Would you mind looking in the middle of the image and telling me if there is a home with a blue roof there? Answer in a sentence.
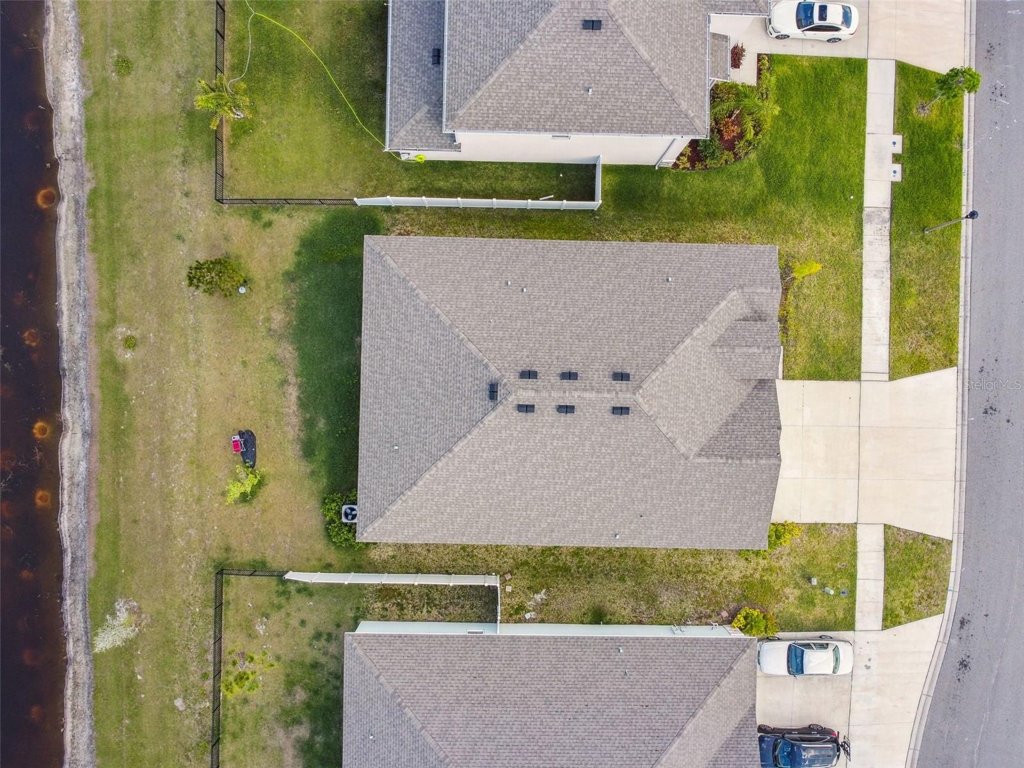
No, I can find no home with a blue roof in the middle of the image.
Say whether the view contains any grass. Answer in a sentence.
Yes, grass can be seen from above here.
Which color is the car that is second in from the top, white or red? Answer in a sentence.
The color of the car that is second in from the top is white.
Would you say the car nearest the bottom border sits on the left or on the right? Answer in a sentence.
The car nearest the bottom border is on the right side of the image.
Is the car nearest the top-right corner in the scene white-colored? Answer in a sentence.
Yes, the car nearest the top-right corner is indeed white.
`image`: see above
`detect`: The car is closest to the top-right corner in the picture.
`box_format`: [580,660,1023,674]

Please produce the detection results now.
[766,0,861,45]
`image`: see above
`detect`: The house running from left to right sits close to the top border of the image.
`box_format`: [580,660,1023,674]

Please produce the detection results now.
[384,0,773,171]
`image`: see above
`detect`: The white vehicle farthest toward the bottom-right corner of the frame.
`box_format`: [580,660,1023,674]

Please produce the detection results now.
[758,634,854,680]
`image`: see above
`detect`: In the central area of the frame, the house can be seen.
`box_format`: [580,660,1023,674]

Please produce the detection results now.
[356,235,783,551]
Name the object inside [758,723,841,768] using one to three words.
car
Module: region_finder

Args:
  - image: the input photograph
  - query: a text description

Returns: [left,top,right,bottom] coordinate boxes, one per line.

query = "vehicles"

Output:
[758,723,841,768]
[766,0,861,45]
[758,634,854,680]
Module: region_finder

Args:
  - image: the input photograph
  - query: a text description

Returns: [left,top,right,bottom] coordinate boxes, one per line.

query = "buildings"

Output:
[356,235,783,551]
[341,622,762,768]
[384,0,773,171]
